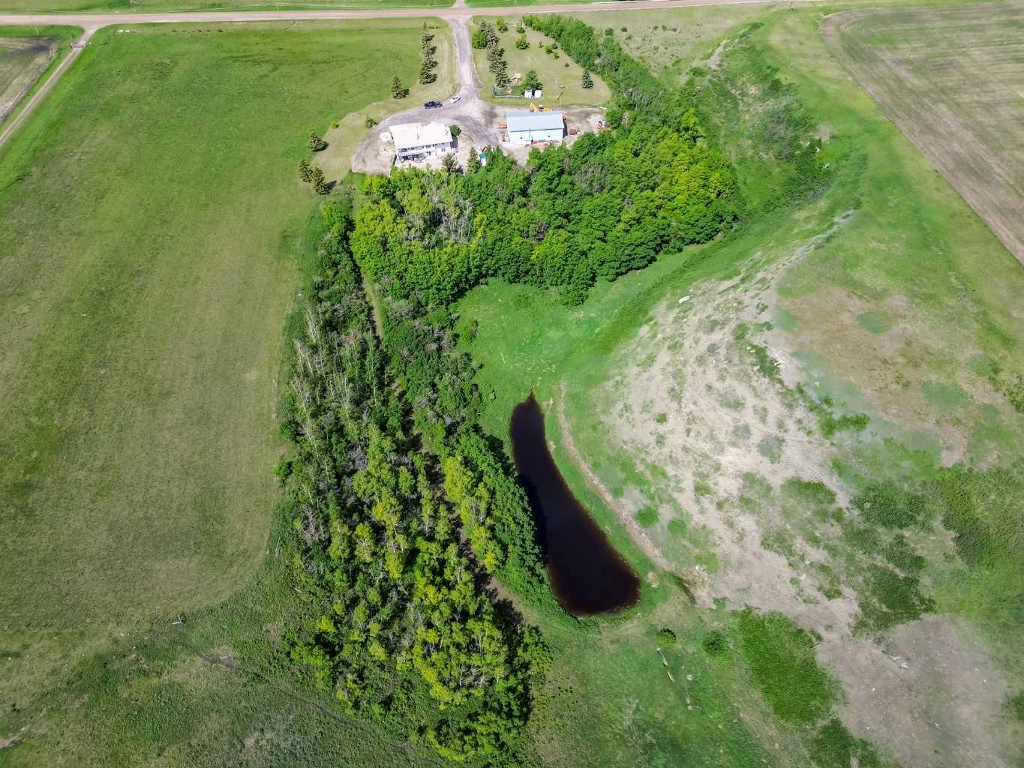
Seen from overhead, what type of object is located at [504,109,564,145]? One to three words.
shed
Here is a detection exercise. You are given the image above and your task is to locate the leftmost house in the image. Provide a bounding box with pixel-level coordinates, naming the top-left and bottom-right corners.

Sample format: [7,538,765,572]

[390,121,453,165]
